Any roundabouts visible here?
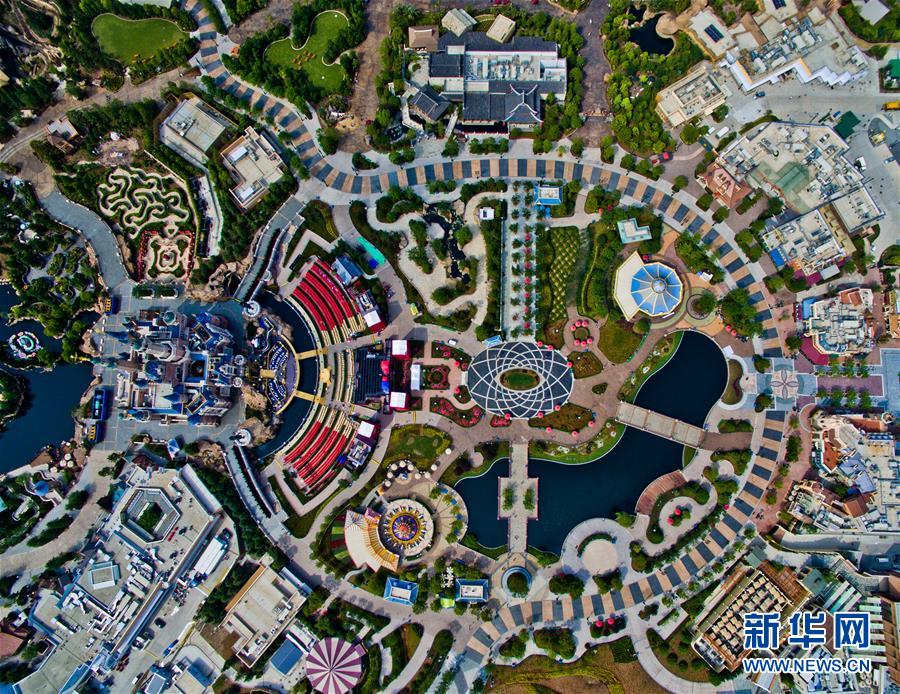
Yes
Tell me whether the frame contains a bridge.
Yes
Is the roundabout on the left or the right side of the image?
right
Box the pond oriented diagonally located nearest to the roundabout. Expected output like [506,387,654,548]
[459,335,728,554]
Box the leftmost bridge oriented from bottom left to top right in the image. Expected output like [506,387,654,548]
[232,196,307,300]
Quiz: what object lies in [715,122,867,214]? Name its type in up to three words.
building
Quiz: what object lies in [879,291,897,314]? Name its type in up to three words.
building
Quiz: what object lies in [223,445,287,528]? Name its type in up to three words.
bridge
